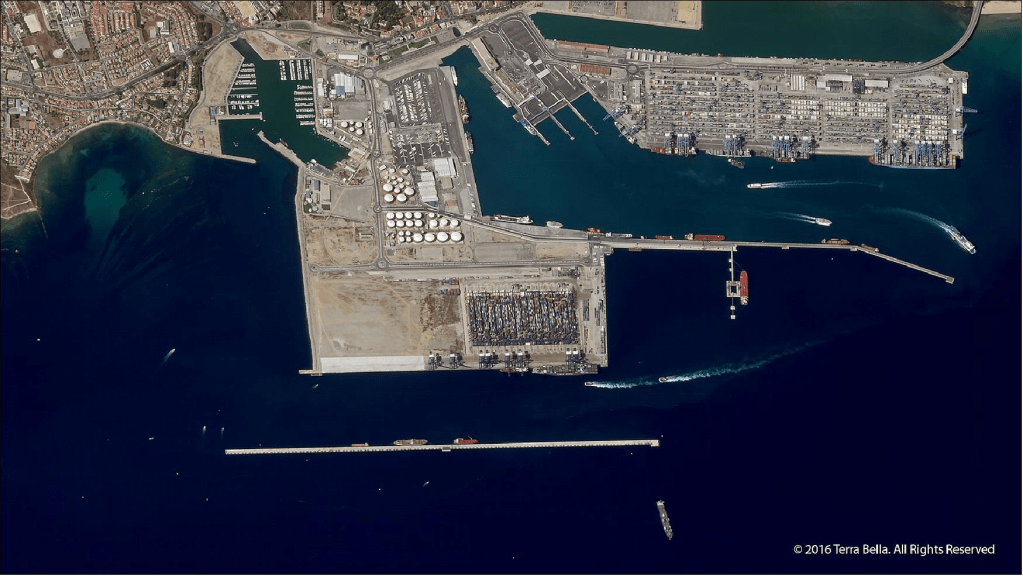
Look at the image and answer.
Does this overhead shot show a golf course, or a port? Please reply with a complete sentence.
The picture captures a port.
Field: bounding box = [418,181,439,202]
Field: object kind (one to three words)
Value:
building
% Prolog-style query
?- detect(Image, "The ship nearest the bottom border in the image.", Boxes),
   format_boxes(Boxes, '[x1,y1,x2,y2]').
[657,501,671,540]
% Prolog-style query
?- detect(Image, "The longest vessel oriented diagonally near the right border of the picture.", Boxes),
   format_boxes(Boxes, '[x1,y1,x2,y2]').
[951,226,976,253]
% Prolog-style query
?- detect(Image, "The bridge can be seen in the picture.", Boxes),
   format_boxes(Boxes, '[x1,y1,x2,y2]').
[880,0,982,74]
